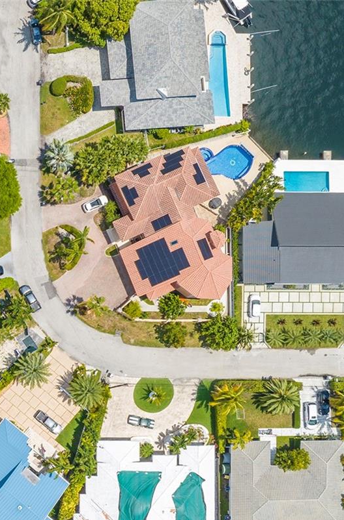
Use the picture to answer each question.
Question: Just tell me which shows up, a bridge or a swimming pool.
swimming pool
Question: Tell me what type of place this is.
residential area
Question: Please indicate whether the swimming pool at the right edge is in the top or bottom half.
top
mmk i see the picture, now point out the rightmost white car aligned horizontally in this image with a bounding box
[127,416,156,429]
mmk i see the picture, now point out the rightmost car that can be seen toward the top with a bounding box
[81,196,108,213]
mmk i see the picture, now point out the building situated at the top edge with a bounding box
[98,0,215,134]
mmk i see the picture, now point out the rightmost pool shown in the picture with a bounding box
[283,171,330,191]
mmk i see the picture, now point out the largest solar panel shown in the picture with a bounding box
[134,237,190,285]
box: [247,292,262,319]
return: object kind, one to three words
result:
car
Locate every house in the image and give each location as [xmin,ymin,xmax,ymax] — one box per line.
[72,440,215,520]
[109,145,230,300]
[0,418,68,520]
[226,441,344,520]
[259,192,344,284]
[98,0,215,134]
